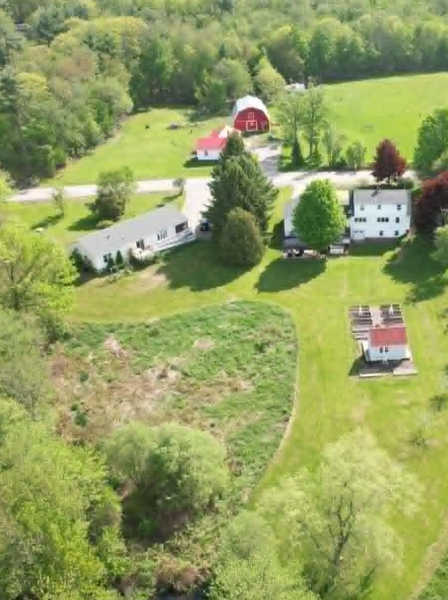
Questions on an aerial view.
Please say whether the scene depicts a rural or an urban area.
rural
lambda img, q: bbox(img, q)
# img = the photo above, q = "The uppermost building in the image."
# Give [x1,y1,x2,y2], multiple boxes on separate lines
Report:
[233,94,271,130]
